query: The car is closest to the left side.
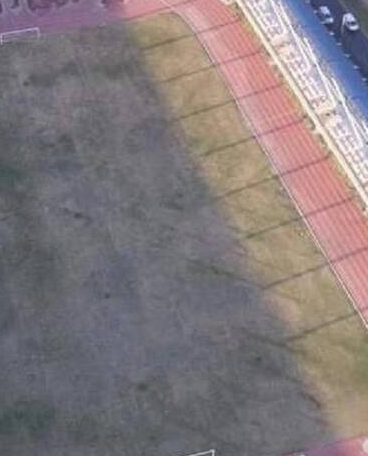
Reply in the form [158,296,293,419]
[320,7,334,22]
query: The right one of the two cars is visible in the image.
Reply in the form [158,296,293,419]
[342,13,358,28]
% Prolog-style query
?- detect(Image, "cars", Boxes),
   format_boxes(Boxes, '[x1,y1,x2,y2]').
[342,13,358,28]
[320,7,334,22]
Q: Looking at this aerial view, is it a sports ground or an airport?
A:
sports ground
